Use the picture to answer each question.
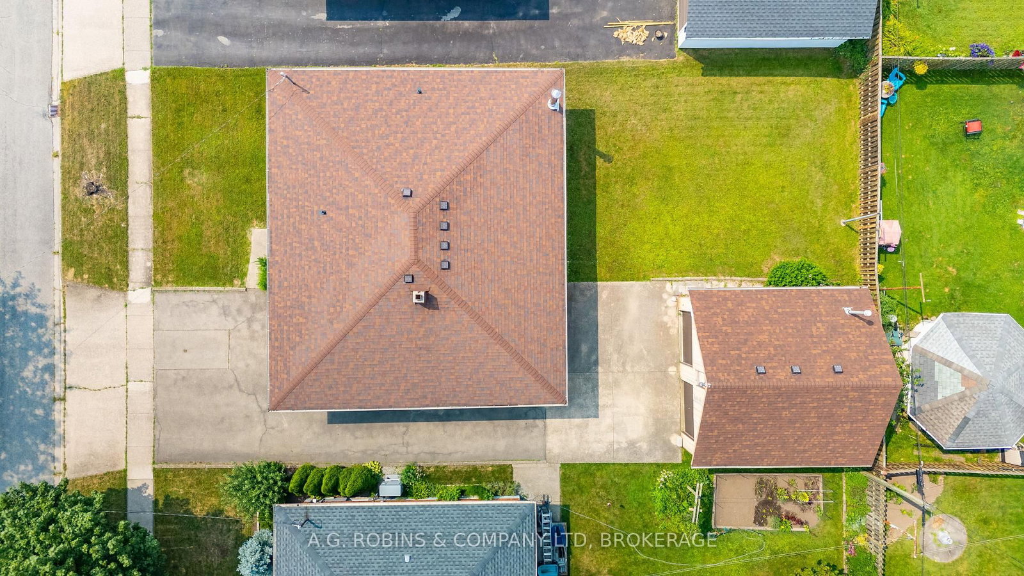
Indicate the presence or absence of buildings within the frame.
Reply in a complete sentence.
Yes, a building is visible in the scene.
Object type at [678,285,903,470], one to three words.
building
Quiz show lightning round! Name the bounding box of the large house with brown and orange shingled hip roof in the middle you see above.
[266,67,567,410]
